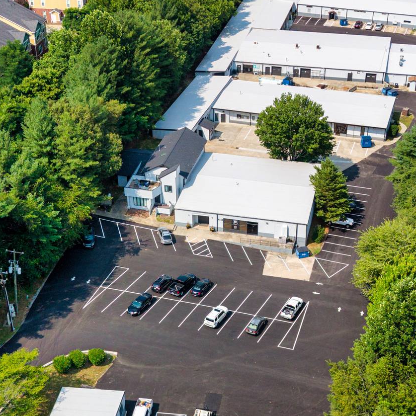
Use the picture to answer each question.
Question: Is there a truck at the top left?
No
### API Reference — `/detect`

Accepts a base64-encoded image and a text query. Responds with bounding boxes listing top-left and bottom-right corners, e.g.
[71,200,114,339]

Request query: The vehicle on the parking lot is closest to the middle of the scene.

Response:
[156,226,174,245]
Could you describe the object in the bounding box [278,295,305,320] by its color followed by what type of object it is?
white truck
